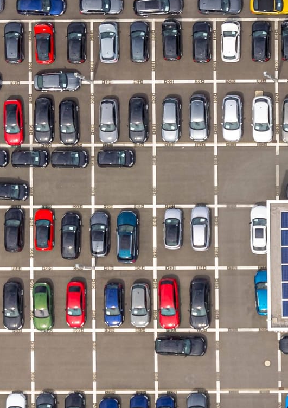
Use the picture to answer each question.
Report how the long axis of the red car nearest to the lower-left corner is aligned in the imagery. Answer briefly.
from top to bottom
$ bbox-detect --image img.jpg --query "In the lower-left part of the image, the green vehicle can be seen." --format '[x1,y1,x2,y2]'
[31,283,54,331]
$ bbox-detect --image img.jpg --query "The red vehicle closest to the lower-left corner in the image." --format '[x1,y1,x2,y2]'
[64,281,87,328]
